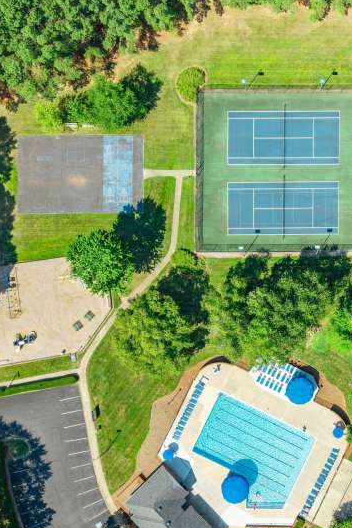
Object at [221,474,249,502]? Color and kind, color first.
blue umbrella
